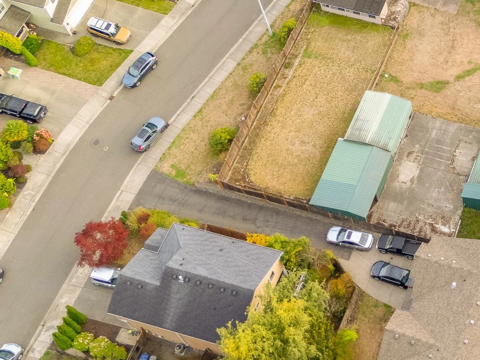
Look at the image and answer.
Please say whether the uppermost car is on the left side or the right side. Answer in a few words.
left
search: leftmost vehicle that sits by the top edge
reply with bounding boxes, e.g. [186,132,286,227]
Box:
[85,15,132,44]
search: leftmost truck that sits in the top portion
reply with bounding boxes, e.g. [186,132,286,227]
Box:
[0,94,48,122]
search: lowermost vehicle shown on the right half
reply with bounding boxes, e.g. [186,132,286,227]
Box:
[368,263,412,292]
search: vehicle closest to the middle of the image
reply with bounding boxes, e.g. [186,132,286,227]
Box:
[130,117,167,154]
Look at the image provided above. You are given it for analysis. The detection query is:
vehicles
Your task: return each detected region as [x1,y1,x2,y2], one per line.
[85,15,132,44]
[123,50,158,87]
[373,233,426,262]
[368,263,412,292]
[0,94,48,122]
[326,228,375,254]
[82,264,126,289]
[130,117,167,154]
[0,344,26,360]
